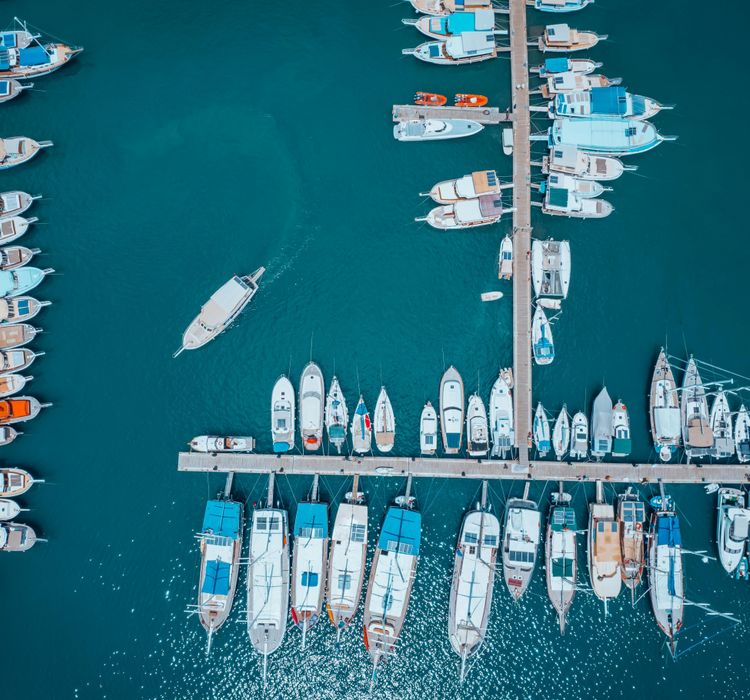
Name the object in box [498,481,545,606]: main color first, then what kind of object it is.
white boat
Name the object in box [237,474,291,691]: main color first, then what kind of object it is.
white boat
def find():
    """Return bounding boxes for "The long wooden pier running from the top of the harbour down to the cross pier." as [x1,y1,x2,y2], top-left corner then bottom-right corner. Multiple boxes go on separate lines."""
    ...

[509,0,531,447]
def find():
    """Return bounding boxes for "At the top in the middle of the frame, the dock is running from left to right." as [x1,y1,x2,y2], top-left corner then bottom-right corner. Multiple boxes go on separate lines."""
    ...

[393,105,499,124]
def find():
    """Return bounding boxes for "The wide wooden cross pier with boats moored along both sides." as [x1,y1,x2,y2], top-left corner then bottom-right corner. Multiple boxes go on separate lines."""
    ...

[178,451,750,485]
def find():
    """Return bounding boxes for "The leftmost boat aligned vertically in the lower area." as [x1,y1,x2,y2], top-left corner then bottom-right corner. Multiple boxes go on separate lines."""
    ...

[177,472,250,654]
